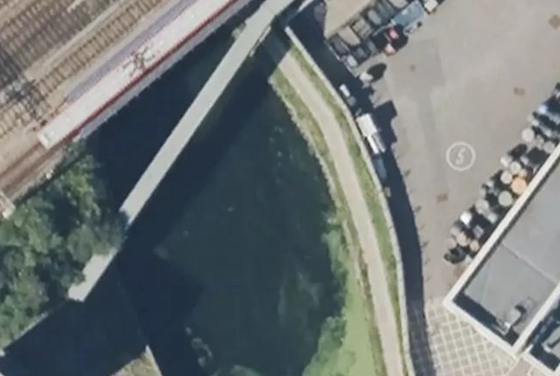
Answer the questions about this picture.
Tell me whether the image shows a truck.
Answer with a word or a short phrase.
Yes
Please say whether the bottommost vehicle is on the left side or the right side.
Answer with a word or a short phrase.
right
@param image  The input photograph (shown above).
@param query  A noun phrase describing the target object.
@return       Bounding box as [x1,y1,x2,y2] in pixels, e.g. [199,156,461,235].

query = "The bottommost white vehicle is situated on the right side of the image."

[353,100,387,157]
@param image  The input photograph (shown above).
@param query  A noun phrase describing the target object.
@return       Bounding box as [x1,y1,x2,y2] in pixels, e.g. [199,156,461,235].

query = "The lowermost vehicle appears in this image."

[368,146,393,184]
